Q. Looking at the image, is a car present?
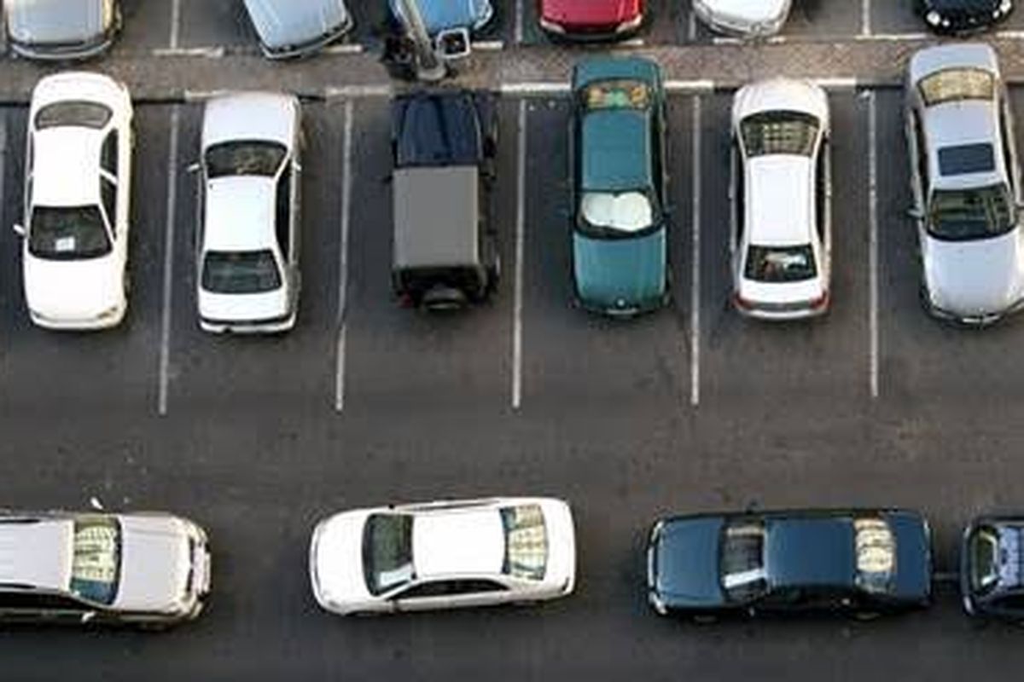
Yes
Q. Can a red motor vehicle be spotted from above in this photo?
Yes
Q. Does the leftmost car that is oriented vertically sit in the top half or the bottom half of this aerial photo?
top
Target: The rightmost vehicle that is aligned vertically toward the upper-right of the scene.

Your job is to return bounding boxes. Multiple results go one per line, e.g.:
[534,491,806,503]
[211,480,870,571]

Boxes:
[902,42,1024,330]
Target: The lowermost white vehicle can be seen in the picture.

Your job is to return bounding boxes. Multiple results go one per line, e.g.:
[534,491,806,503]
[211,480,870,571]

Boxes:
[309,494,577,615]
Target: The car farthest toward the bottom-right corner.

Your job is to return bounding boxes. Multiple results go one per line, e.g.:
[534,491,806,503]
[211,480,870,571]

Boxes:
[957,512,1024,620]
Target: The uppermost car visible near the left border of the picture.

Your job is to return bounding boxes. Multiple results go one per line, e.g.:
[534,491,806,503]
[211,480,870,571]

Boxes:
[10,0,118,62]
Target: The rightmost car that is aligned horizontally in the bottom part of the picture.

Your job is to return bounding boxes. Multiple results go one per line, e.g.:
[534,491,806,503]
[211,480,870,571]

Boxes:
[646,498,935,617]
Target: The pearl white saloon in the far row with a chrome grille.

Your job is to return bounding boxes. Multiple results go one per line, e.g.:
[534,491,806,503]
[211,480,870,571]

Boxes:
[698,0,795,45]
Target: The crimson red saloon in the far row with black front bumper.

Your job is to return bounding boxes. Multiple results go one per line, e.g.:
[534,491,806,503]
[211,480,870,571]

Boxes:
[542,0,642,45]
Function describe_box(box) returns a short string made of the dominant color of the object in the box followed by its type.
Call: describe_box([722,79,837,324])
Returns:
white car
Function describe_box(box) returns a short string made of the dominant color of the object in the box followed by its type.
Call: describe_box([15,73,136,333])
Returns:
white car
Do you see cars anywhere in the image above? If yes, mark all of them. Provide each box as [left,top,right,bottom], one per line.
[722,79,837,324]
[15,73,136,333]
[542,0,642,45]
[309,494,577,615]
[902,42,1024,330]
[422,0,495,42]
[957,512,1024,620]
[698,0,795,45]
[248,0,361,60]
[914,0,1013,38]
[560,56,676,320]
[646,498,935,617]
[10,0,118,62]
[189,94,302,336]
